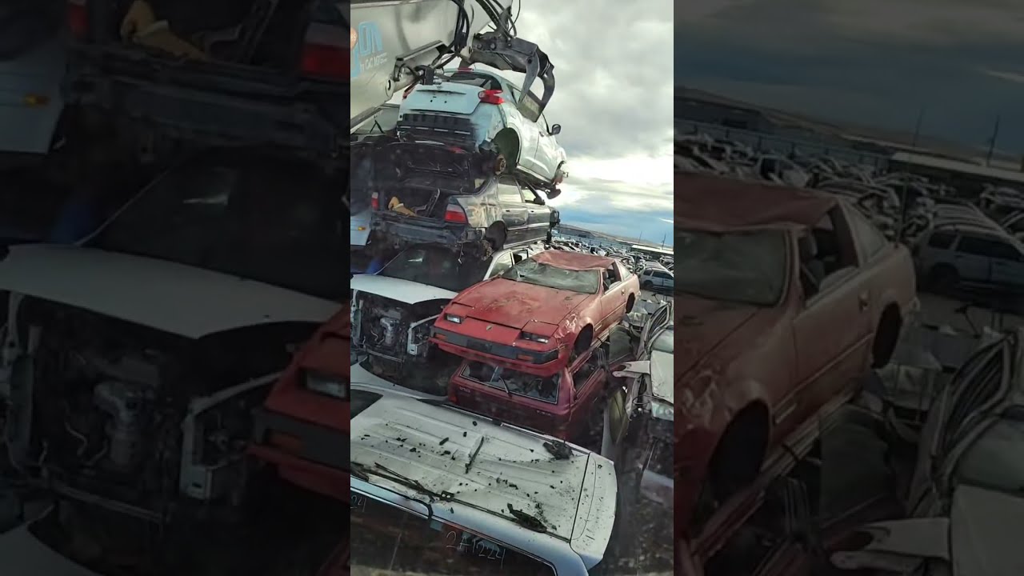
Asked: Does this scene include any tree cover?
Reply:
No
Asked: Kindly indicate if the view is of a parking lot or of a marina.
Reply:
parking lot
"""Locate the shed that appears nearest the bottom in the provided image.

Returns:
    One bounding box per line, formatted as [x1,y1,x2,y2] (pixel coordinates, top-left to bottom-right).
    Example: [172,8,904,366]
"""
[619,241,674,267]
